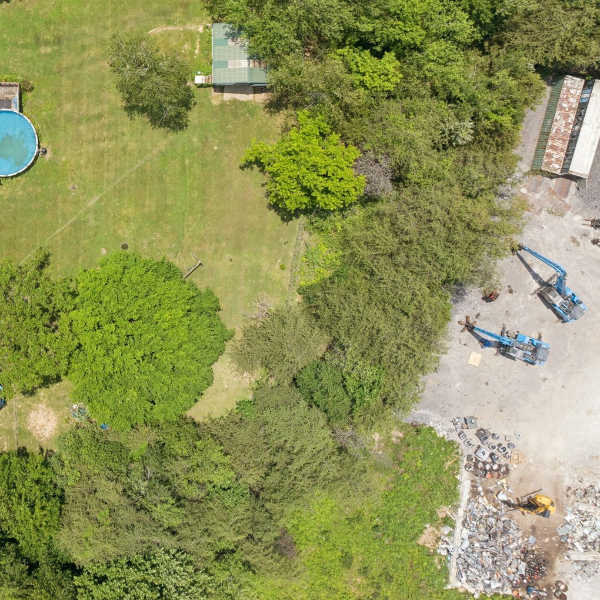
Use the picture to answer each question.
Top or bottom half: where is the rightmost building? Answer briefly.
top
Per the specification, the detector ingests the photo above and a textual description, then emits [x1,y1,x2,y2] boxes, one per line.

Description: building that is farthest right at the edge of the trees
[209,22,269,86]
